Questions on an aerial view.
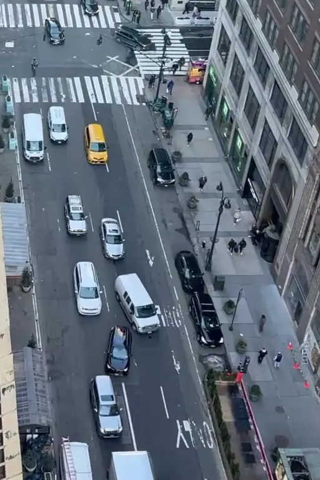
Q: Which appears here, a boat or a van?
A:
van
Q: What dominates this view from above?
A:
paved ground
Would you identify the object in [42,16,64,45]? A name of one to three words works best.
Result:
car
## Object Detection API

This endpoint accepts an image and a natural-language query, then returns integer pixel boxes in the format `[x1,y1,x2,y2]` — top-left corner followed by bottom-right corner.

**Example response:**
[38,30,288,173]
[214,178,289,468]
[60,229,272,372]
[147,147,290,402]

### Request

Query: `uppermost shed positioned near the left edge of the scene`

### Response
[0,202,34,300]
